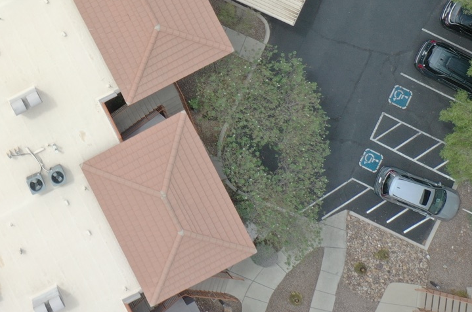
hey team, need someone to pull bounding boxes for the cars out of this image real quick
[435,0,472,47]
[366,165,460,226]
[406,44,472,111]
